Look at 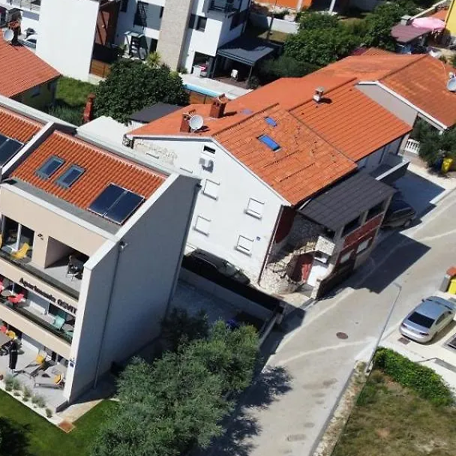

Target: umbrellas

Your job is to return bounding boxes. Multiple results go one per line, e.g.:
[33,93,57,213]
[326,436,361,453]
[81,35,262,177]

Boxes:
[404,15,452,42]
[8,333,20,374]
